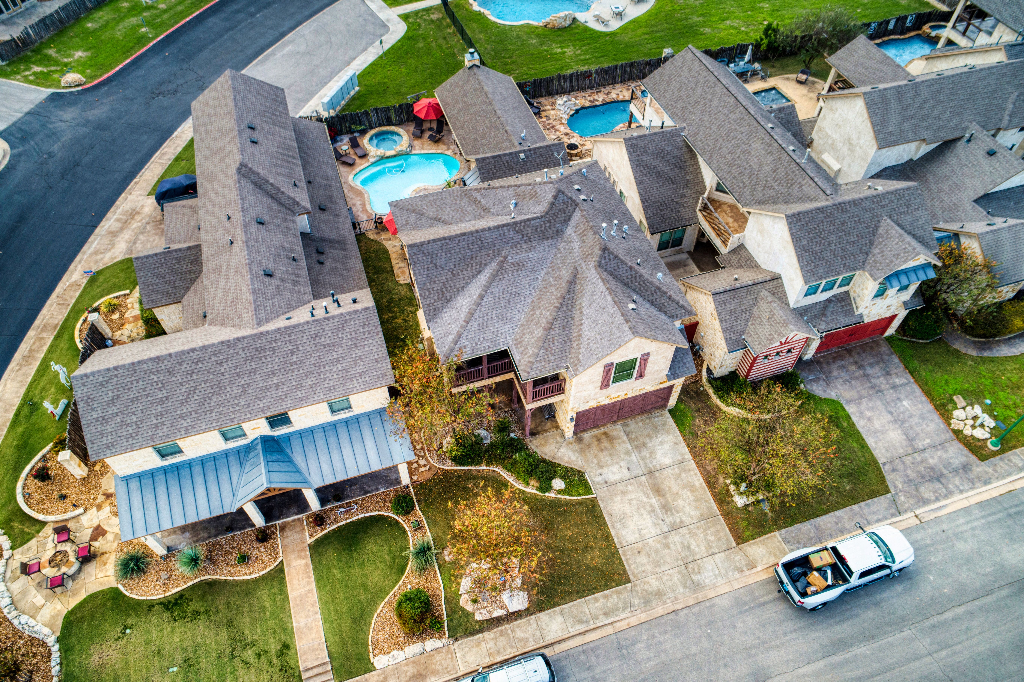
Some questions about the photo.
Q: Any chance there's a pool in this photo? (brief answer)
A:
Yes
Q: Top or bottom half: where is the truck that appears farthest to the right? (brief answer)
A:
bottom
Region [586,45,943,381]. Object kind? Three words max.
house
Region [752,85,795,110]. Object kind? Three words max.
swimming pool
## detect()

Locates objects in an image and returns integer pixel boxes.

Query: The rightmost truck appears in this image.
[768,523,912,611]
